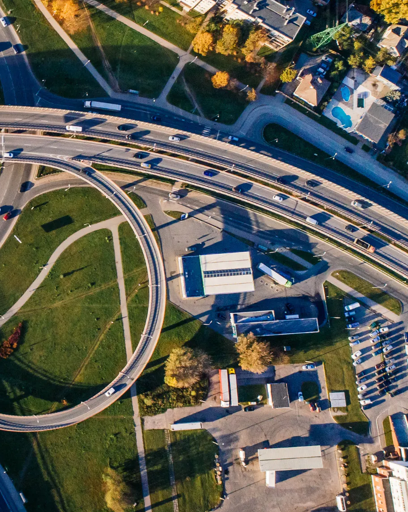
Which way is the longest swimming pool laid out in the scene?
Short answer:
on a diagonal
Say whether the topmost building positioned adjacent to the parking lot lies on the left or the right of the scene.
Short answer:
right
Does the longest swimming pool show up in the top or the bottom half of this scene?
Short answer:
top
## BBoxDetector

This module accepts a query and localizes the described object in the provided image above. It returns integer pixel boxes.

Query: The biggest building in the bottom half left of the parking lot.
[226,310,320,336]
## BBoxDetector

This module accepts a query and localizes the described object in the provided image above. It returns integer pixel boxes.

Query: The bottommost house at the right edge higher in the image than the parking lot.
[349,101,395,145]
